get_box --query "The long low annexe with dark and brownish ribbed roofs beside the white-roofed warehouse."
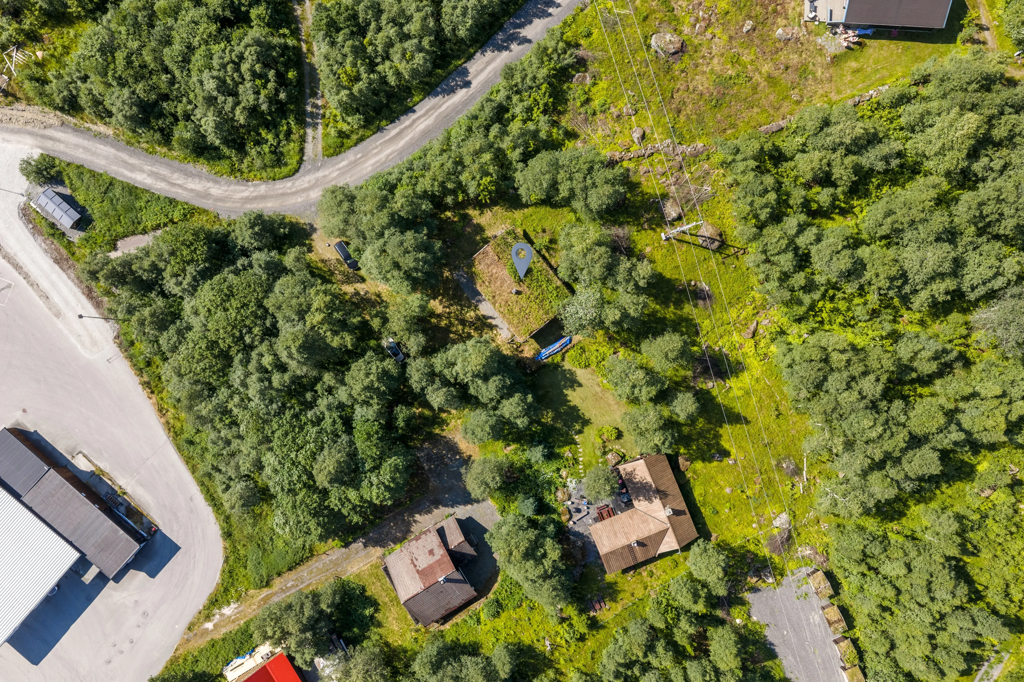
[0,427,151,579]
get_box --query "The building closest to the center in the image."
[461,225,565,343]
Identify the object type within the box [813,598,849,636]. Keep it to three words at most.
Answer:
building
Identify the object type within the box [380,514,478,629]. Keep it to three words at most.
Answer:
house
